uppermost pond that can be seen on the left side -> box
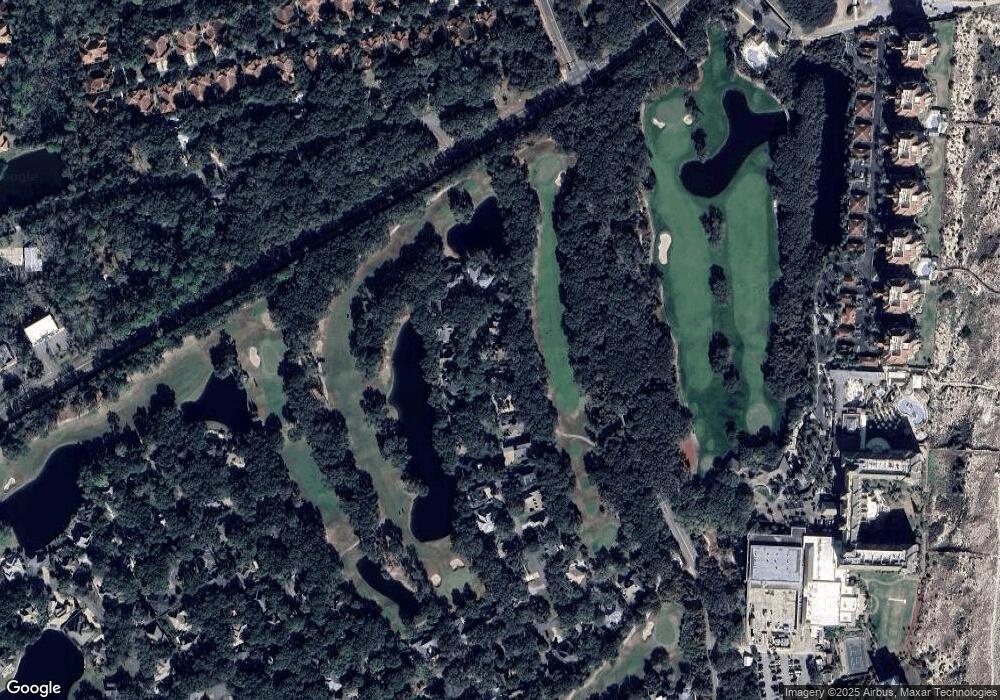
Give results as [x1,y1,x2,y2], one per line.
[0,149,67,214]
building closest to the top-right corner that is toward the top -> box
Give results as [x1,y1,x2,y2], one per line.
[892,31,941,68]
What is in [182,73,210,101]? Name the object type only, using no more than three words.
house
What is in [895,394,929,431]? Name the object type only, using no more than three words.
swimming pool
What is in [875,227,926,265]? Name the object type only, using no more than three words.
building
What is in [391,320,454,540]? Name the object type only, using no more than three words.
pond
